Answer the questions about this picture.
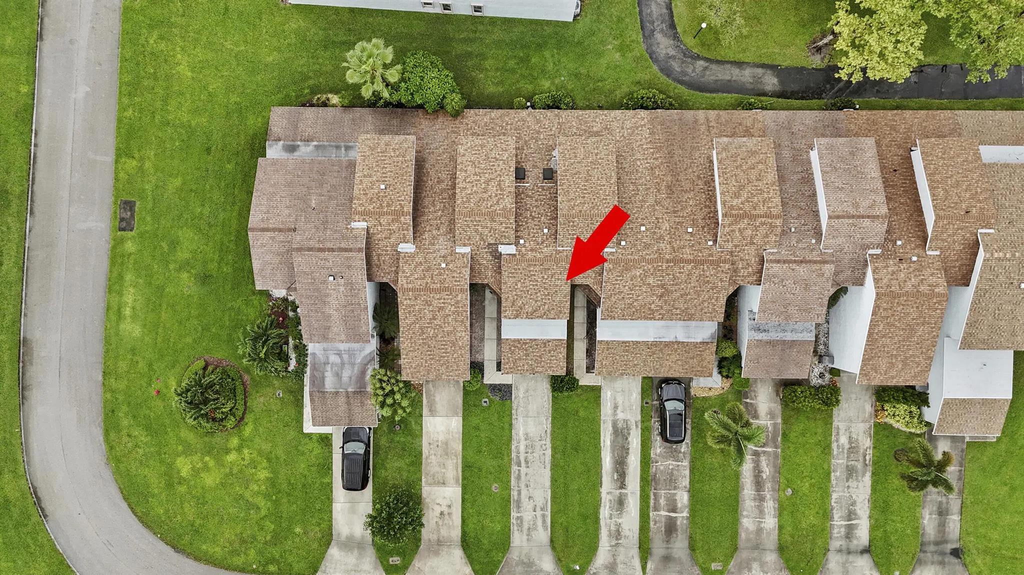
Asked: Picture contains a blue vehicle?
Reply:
No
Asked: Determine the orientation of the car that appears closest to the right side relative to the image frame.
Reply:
vertically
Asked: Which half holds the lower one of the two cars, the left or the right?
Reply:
left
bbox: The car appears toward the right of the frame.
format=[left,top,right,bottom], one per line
[657,380,689,444]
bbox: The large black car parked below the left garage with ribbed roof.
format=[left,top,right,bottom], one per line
[337,427,370,491]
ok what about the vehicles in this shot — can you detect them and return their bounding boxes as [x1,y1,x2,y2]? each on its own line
[337,427,370,491]
[657,380,689,444]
